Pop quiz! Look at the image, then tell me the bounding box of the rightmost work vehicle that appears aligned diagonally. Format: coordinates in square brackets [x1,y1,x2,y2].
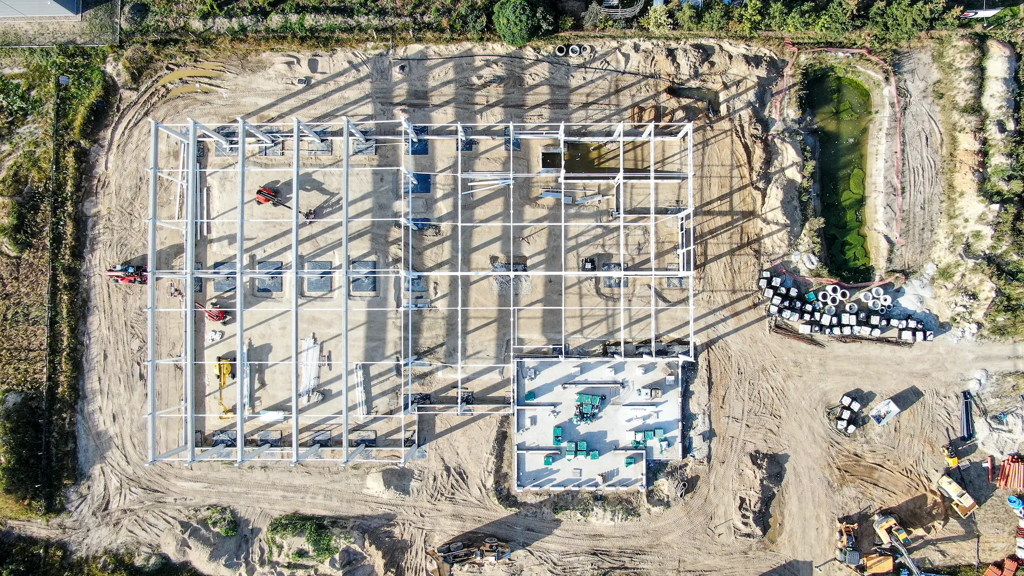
[933,471,985,520]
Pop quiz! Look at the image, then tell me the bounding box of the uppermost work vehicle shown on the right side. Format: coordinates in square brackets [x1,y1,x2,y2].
[940,427,962,471]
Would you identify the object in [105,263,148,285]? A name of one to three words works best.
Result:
work vehicle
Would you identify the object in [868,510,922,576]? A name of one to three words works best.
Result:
work vehicle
